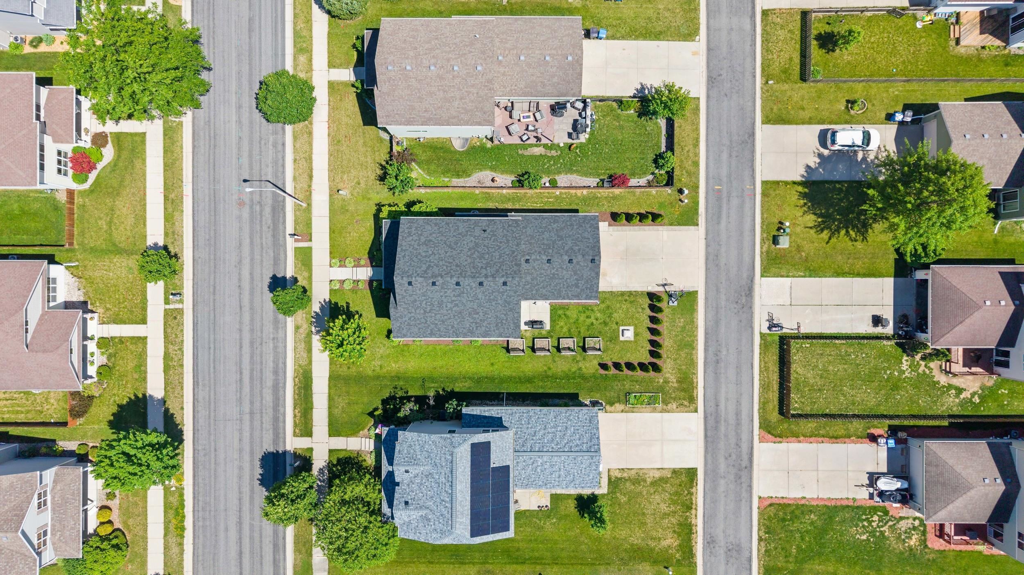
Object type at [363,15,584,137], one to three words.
house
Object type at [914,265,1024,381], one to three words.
house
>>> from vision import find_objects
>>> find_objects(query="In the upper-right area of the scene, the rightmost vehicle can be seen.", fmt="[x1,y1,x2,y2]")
[830,125,881,149]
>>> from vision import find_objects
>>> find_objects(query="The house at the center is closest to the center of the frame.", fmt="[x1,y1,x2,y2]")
[382,212,601,340]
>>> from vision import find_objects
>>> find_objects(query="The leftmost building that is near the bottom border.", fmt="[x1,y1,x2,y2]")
[0,444,97,575]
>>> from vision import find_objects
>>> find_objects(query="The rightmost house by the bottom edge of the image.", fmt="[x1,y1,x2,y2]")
[908,436,1024,563]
